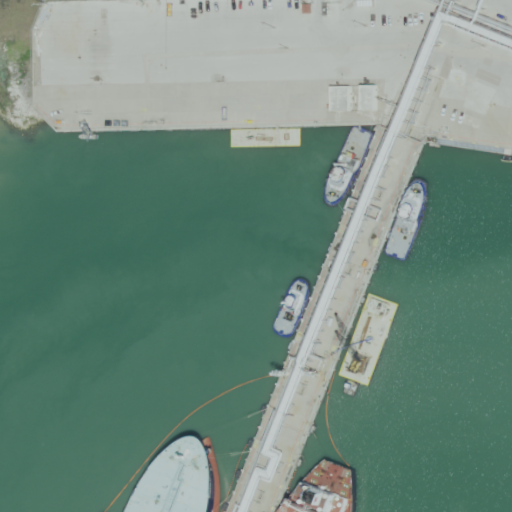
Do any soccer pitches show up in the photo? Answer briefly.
No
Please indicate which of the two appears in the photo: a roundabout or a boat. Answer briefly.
boat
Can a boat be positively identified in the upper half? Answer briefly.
Yes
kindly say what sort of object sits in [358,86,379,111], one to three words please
shed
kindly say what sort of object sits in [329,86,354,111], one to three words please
shed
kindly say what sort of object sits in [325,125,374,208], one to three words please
boat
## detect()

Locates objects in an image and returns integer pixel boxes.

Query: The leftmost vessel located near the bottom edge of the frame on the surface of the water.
[124,430,219,512]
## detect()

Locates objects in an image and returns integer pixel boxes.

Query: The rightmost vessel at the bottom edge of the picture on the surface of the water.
[276,458,354,512]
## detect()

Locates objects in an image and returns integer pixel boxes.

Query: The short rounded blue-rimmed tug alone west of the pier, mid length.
[275,276,308,338]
